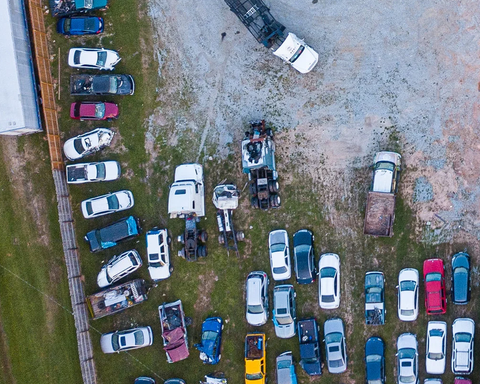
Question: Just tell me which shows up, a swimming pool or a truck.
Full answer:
It is a truck that can be seen here.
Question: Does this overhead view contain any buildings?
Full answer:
No, there is no building in the image.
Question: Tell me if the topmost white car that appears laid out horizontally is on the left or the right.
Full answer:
The topmost white car that appears laid out horizontally is on the left side of the image.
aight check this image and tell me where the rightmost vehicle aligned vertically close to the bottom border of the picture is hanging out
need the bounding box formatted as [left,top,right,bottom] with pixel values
[450,318,477,376]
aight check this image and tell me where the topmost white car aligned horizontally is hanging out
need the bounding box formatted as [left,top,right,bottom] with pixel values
[66,46,119,70]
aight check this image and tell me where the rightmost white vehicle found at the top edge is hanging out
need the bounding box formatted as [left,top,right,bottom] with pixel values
[259,19,322,77]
